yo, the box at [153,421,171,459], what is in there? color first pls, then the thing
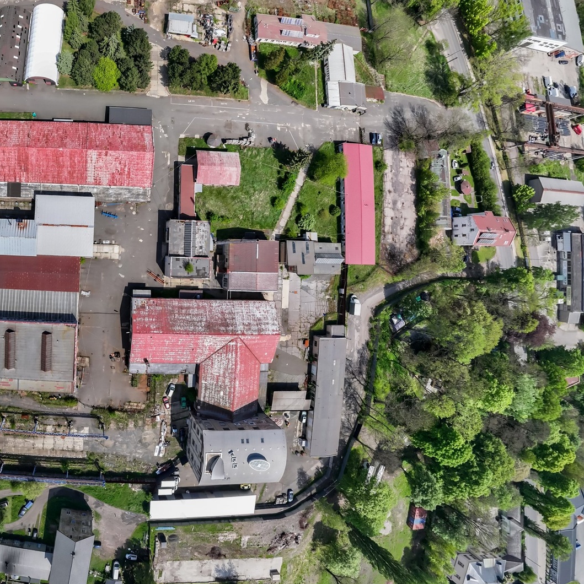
white vehicle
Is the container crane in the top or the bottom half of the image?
top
